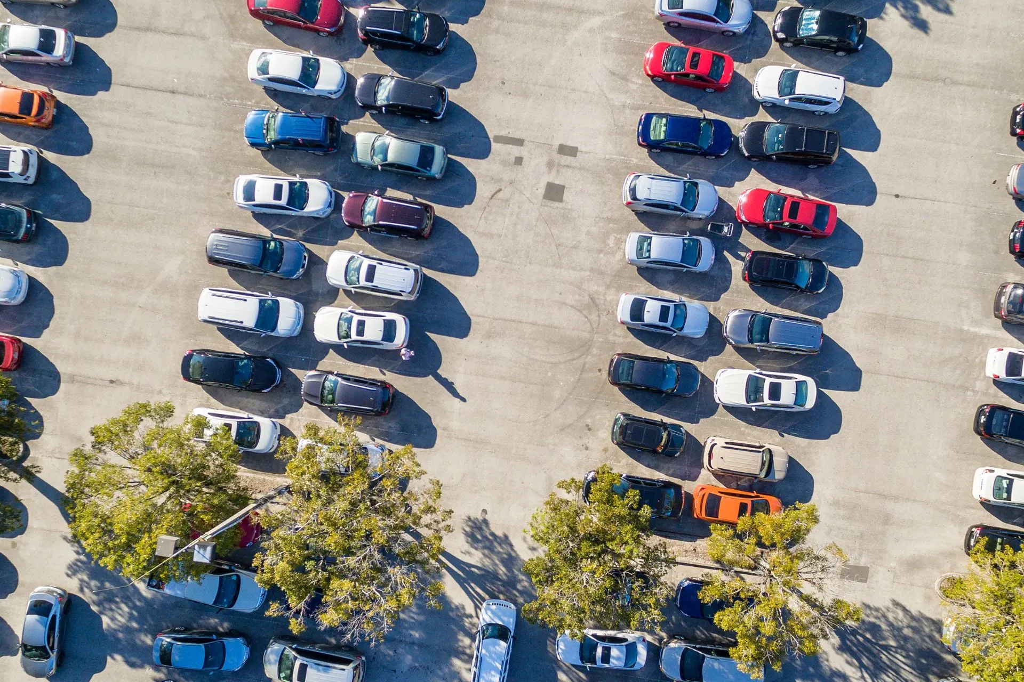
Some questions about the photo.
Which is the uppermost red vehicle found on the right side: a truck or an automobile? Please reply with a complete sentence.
It looks like the uppermost red vehicle found on the right side is an automobile.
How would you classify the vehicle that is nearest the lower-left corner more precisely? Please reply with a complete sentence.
It looks like the vehicle that is nearest the lower-left corner is a car.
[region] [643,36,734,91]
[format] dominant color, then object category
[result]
red car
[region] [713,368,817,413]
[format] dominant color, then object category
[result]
white car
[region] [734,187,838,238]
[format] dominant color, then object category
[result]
red car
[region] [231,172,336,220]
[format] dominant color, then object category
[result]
white car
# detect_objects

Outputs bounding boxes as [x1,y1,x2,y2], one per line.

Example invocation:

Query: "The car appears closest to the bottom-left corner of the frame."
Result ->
[14,584,75,675]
